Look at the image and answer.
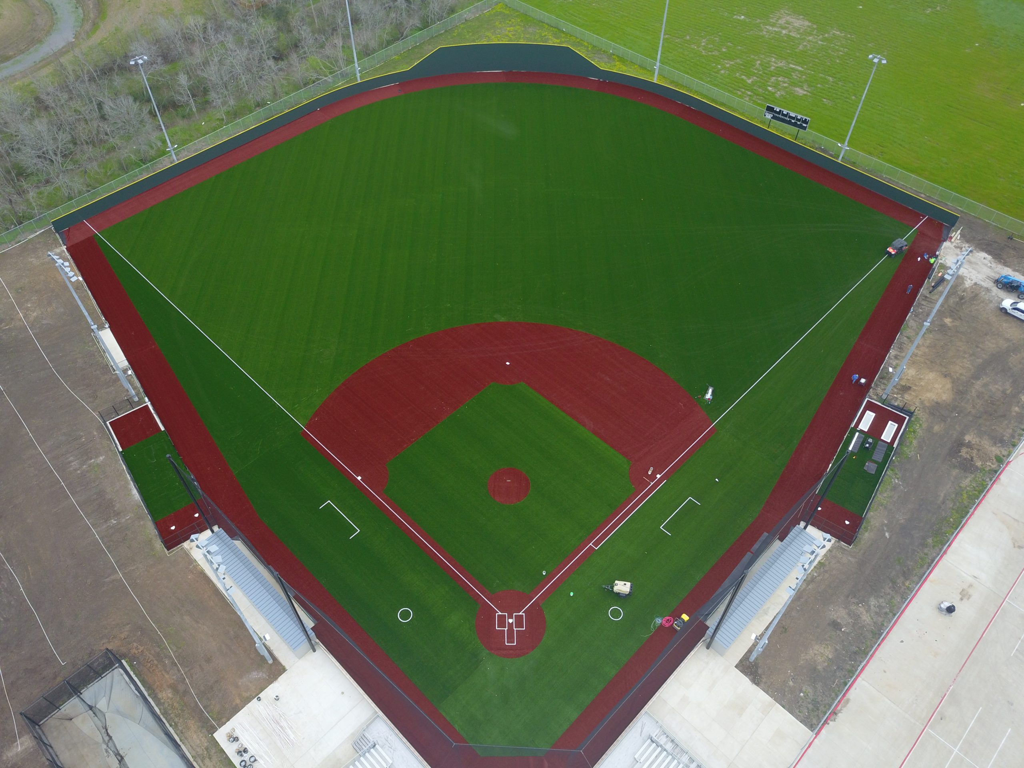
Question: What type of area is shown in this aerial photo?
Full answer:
The area seen from above is a sports ground.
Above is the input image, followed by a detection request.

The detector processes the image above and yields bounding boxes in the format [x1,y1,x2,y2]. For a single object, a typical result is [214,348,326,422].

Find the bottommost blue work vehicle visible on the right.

[986,275,1024,299]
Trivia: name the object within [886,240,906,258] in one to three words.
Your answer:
vehicle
